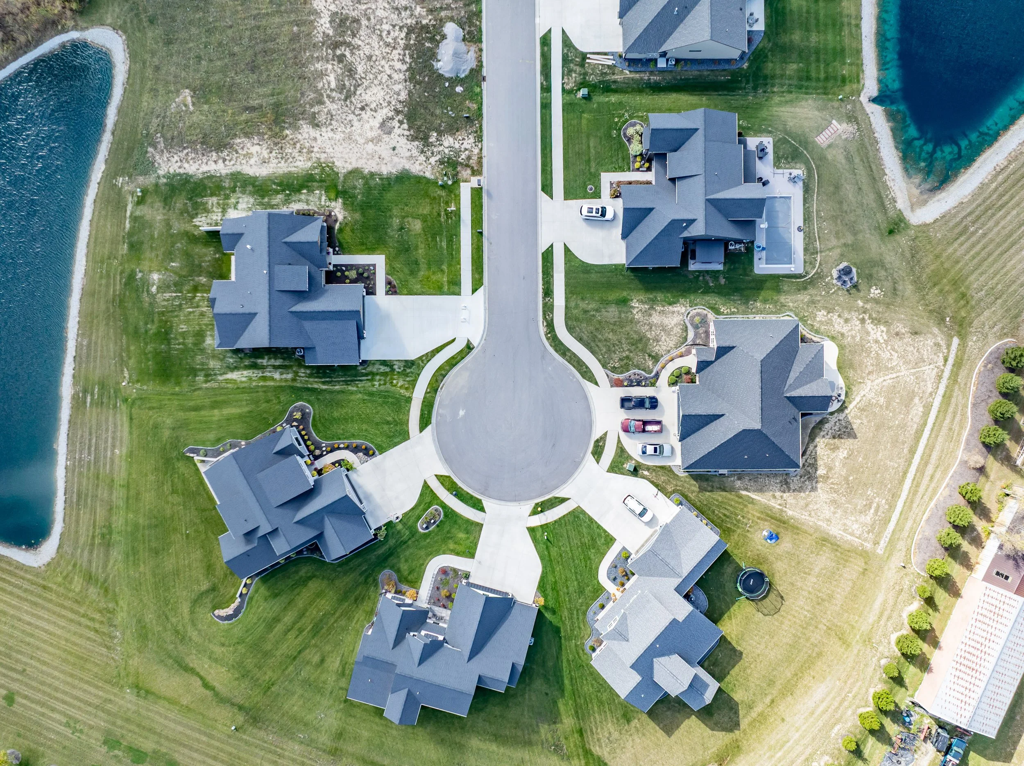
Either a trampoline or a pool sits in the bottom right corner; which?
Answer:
trampoline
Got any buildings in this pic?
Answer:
Yes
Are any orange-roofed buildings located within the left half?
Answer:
No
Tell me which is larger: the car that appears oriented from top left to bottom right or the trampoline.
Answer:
the trampoline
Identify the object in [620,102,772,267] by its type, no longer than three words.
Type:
house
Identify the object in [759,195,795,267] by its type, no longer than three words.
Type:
swimming pool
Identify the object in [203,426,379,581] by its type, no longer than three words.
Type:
house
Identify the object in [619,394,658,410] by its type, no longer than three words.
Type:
vehicle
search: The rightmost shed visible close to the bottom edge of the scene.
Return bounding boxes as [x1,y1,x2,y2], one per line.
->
[915,579,1024,739]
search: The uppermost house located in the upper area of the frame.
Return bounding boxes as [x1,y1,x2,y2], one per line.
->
[618,0,748,60]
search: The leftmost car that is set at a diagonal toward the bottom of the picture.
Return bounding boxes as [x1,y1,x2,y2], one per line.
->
[623,491,652,525]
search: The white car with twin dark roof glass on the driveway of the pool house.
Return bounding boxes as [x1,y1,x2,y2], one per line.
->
[579,205,614,221]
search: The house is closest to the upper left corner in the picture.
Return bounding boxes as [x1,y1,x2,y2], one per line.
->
[207,210,370,365]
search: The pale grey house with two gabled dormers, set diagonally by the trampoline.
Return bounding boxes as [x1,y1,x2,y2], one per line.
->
[591,502,728,713]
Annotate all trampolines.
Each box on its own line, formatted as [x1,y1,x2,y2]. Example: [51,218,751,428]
[731,564,774,603]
